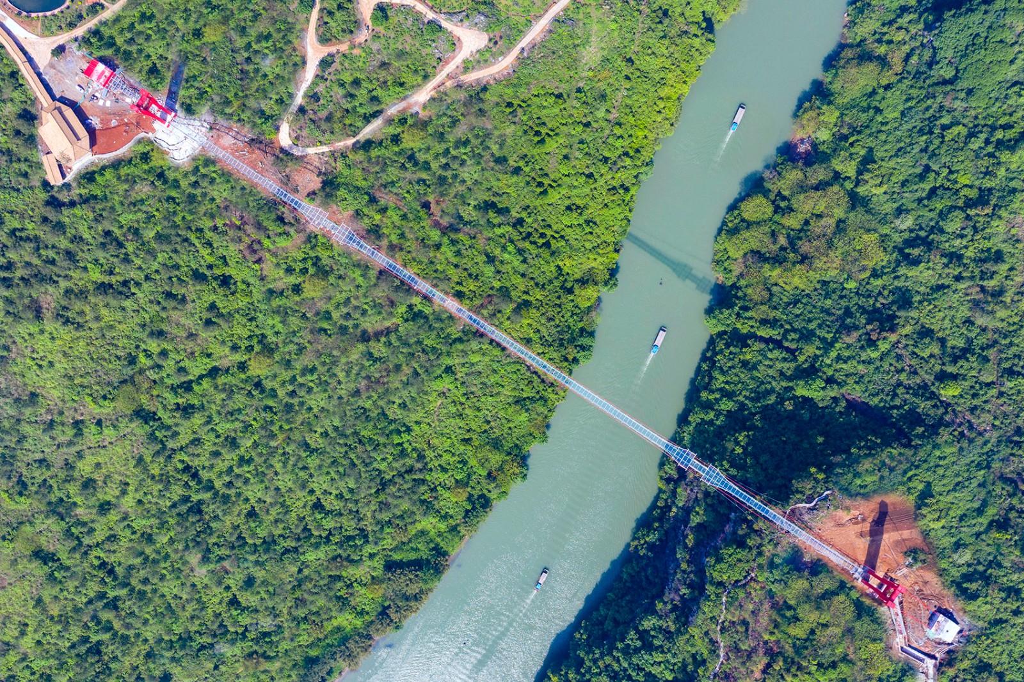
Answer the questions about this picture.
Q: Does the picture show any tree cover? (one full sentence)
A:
Yes, the picture does contain tree cover.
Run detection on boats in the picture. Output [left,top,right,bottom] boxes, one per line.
[533,568,548,594]
[731,101,745,132]
[652,326,666,355]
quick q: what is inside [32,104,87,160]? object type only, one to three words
building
